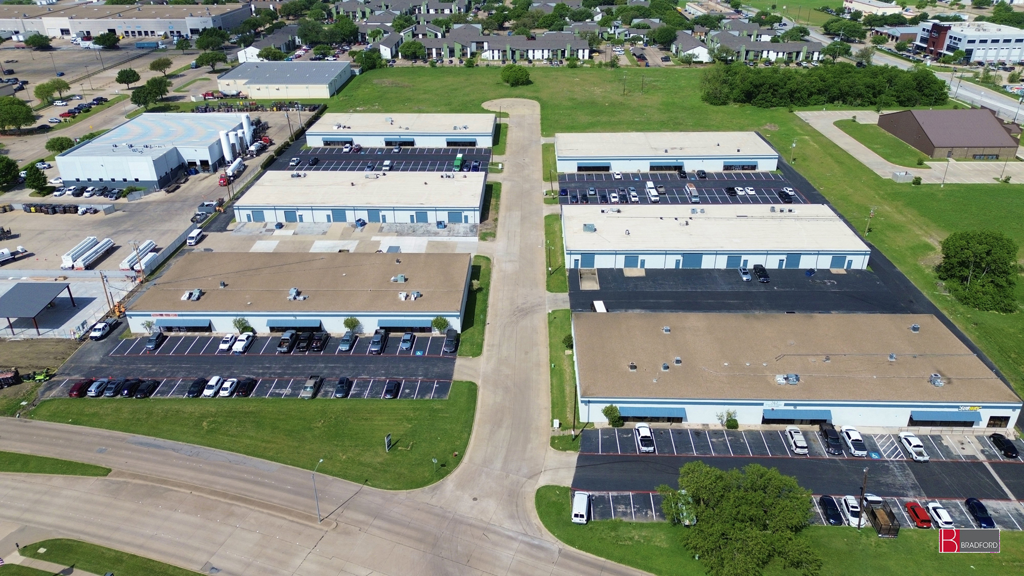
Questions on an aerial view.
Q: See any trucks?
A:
Yes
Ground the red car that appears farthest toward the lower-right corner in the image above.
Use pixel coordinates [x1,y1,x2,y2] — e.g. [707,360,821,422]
[902,501,936,533]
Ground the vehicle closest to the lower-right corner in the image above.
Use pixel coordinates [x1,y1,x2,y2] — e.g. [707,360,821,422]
[962,499,997,530]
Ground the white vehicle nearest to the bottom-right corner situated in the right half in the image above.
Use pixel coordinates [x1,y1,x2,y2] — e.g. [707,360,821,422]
[924,501,959,533]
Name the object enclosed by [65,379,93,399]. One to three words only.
car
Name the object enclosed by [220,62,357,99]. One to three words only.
shed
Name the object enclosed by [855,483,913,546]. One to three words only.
truck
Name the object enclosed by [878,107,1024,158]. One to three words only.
building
